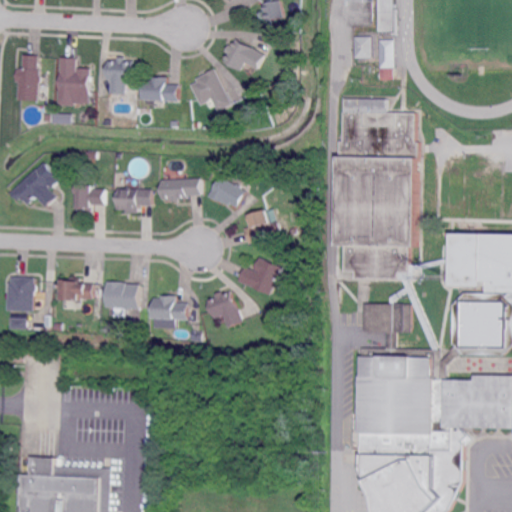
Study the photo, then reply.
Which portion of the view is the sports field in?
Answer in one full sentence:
The sports field appears toward the top right of the photo.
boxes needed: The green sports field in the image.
[437,0,512,49]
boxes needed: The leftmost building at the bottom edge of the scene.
[18,457,106,512]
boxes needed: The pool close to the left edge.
[23,106,42,125]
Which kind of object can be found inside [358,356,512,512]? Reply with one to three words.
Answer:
building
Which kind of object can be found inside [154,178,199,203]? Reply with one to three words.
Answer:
house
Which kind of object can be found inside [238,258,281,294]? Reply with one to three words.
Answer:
house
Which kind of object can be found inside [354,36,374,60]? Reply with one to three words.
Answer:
building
